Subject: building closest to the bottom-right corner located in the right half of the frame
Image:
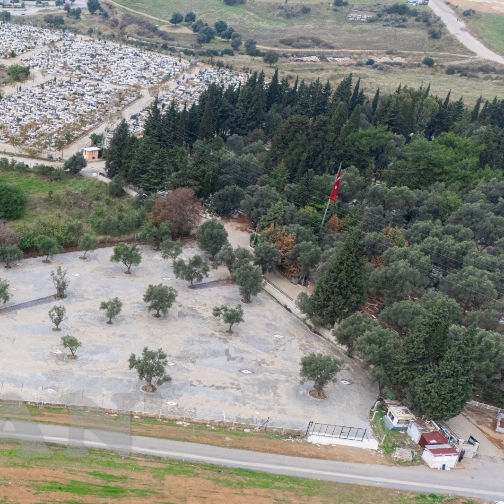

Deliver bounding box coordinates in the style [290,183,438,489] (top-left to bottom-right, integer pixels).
[418,438,462,469]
